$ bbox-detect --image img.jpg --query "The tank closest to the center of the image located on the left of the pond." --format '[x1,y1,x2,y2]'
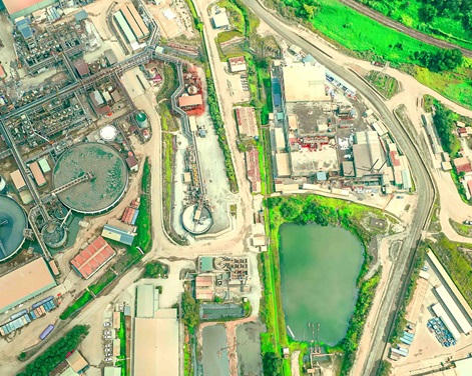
[182,199,215,236]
